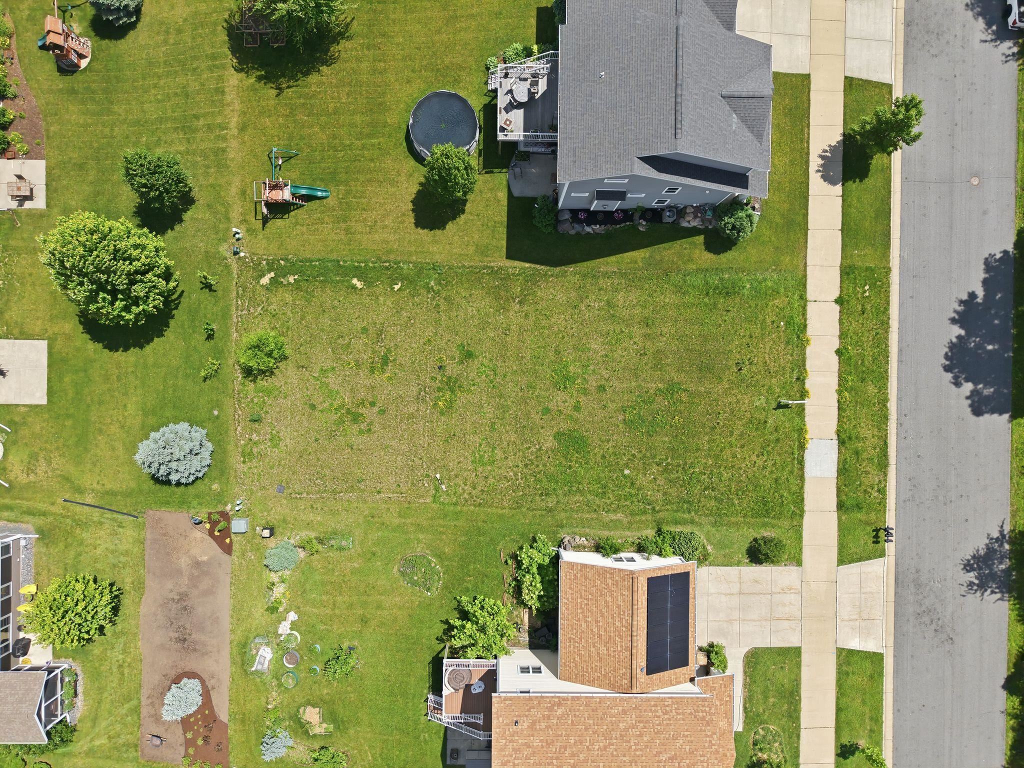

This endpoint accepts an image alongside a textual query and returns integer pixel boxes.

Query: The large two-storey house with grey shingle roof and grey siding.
[556,0,778,213]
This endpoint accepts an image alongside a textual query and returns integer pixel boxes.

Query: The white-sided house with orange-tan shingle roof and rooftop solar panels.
[491,544,741,768]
